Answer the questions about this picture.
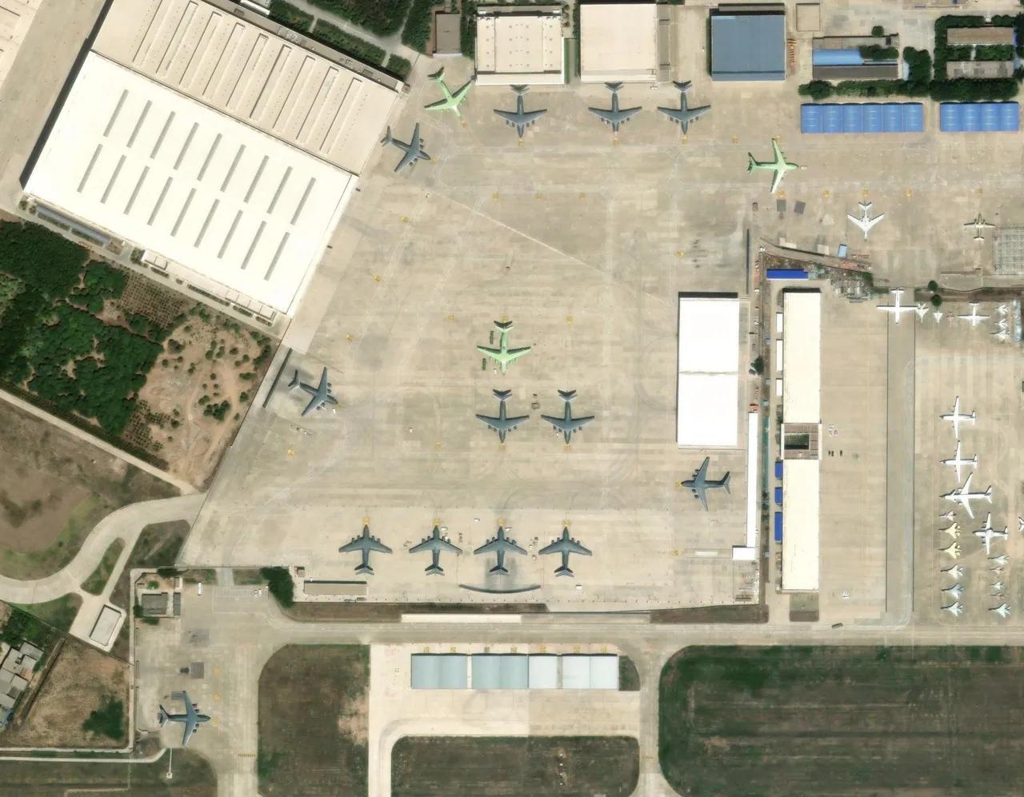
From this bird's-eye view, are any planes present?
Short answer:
Yes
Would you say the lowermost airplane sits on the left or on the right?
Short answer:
left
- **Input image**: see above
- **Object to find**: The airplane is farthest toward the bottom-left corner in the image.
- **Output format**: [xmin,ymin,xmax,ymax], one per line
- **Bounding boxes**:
[161,692,211,745]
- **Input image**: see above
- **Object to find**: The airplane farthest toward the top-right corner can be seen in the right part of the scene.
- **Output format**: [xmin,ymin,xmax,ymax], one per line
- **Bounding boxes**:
[963,213,996,238]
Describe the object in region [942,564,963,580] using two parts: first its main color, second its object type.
white airplane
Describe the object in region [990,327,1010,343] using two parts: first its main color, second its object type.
white airplane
